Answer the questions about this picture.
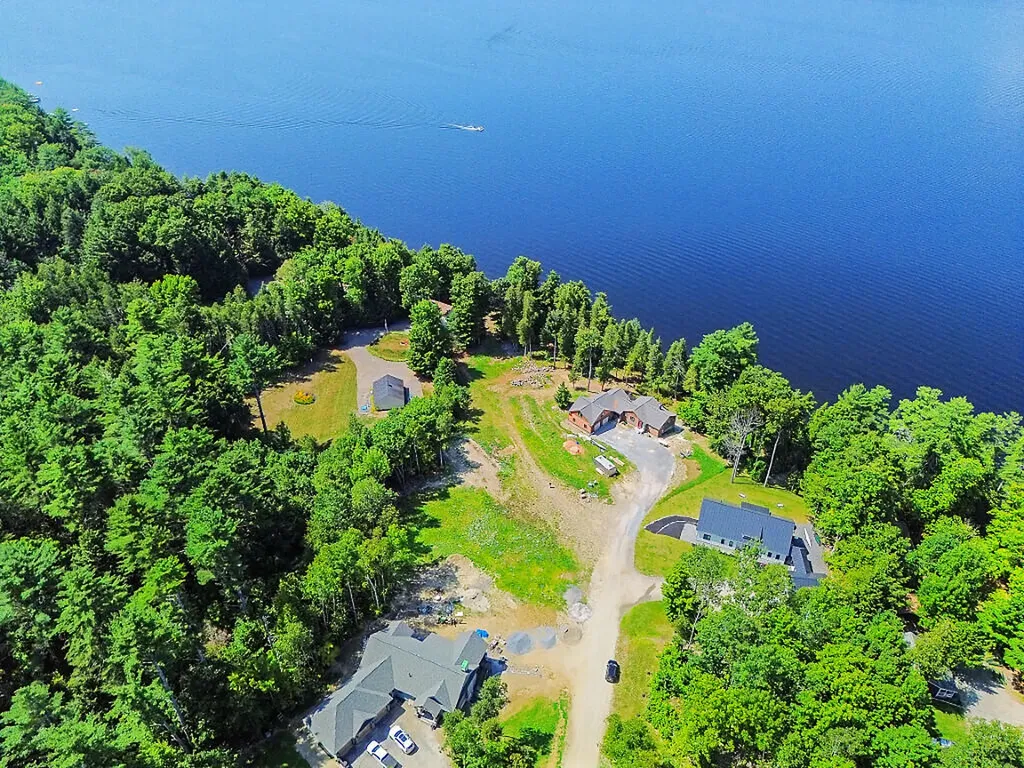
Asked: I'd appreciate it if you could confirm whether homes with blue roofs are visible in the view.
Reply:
Yes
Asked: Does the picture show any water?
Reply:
Yes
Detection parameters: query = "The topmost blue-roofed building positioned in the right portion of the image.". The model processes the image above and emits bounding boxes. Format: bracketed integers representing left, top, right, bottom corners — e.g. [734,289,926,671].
[696,499,802,581]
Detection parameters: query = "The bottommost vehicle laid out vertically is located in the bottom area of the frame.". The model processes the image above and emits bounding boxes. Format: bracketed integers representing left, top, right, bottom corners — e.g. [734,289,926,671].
[605,655,619,683]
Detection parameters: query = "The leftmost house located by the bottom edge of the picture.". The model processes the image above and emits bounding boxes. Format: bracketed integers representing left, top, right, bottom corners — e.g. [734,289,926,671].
[300,618,493,761]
